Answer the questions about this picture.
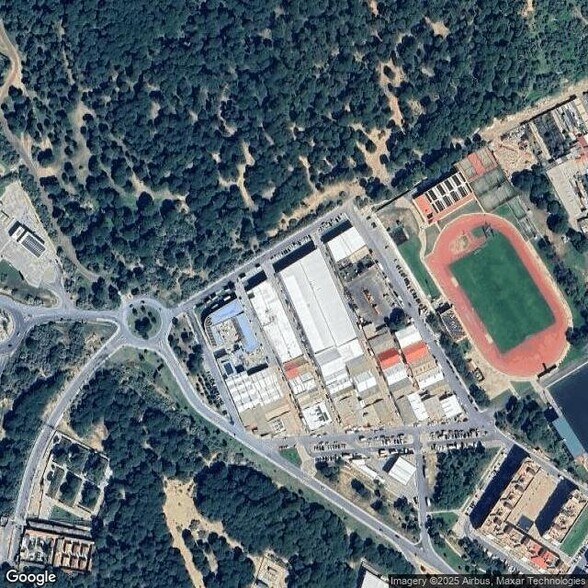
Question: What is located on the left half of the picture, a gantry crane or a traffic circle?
traffic circle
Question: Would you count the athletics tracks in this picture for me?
1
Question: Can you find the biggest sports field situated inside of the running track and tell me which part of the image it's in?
right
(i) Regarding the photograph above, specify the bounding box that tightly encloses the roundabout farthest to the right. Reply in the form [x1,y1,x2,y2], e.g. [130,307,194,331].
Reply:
[117,295,172,349]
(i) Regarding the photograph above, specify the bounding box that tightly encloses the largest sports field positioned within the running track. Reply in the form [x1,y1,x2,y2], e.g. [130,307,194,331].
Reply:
[450,230,555,353]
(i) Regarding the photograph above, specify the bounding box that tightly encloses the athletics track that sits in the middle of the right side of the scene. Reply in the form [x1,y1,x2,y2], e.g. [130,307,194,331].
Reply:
[423,212,571,378]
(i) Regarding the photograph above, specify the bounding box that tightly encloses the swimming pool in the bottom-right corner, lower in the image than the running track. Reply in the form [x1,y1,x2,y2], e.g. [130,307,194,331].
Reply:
[516,514,535,533]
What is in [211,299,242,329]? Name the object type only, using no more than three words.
building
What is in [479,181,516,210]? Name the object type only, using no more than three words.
tennis court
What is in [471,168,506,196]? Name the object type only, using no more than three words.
tennis court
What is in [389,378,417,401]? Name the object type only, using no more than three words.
building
